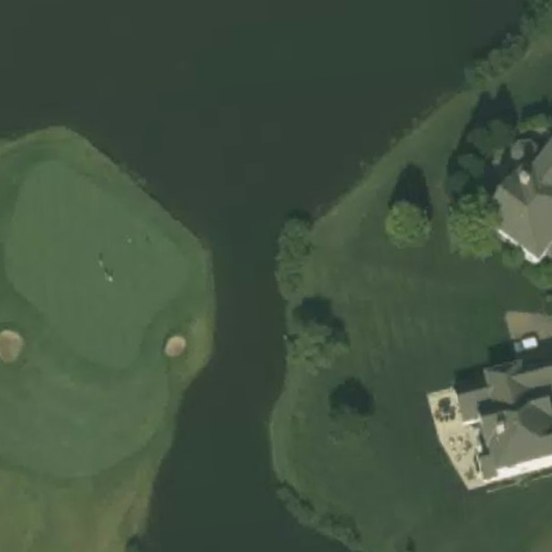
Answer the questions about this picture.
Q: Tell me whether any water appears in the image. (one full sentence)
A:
Yes, water shows up in the scene.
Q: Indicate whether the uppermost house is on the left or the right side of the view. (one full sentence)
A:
It is on the right.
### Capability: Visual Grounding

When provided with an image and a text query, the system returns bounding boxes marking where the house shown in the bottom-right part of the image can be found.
[457,359,552,483]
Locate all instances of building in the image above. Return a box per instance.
[457,359,552,483]
[495,137,552,259]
